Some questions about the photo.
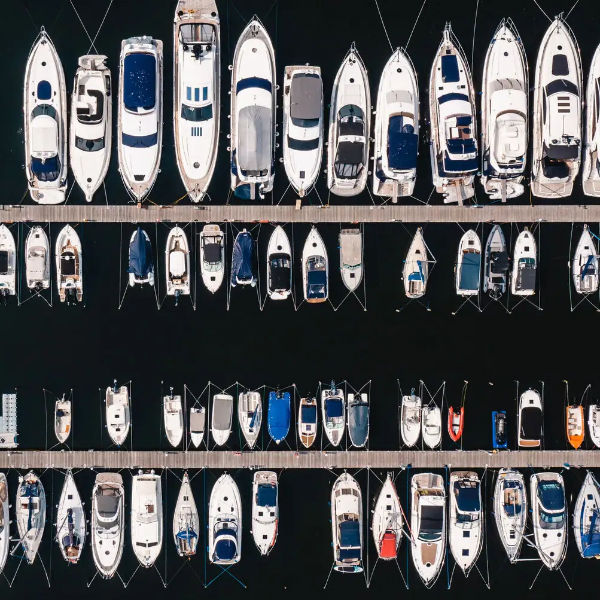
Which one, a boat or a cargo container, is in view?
boat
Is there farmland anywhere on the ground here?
No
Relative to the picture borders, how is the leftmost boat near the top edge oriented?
up and down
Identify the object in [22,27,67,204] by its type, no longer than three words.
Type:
boat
